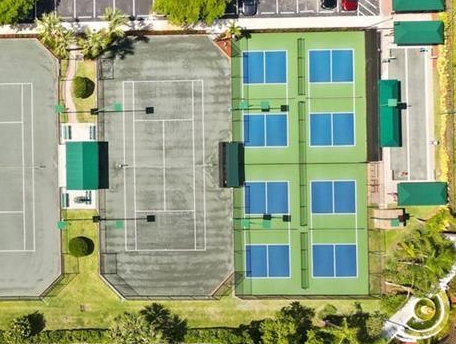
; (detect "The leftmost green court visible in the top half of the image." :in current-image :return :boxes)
[234,30,302,163]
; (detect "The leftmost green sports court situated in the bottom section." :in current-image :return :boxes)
[234,162,303,296]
